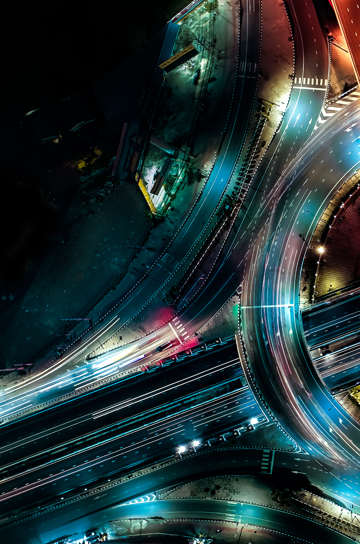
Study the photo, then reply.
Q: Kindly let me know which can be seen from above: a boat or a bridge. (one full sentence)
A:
I can see a bridge in this picture.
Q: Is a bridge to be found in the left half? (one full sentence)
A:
No, I can find no bridge in the left half.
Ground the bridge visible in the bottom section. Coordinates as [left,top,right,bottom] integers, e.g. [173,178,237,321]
[233,309,334,436]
